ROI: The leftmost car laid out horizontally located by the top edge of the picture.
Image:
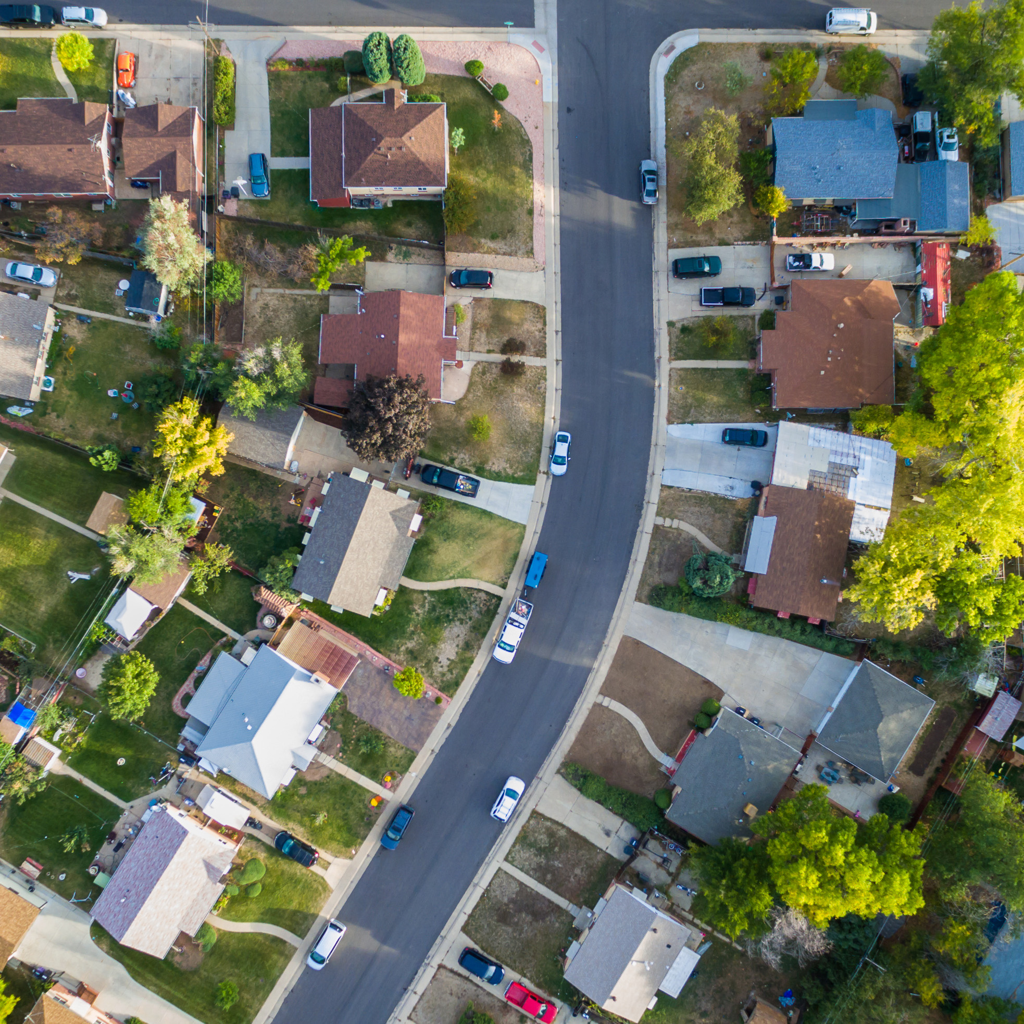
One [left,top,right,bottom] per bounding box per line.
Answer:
[0,2,56,28]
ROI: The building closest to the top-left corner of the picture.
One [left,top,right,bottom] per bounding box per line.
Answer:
[0,97,113,197]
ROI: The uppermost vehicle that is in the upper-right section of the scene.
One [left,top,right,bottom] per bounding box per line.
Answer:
[825,6,877,36]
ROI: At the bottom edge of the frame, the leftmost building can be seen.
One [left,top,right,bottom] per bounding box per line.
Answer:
[0,868,48,974]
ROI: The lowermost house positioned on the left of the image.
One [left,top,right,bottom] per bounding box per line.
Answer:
[28,980,124,1024]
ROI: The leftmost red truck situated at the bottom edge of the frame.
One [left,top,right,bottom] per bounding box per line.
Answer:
[503,981,557,1024]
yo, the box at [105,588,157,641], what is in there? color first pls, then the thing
white tent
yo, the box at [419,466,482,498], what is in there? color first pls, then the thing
black truck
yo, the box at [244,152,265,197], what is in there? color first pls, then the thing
blue car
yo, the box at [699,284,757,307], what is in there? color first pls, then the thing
black truck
